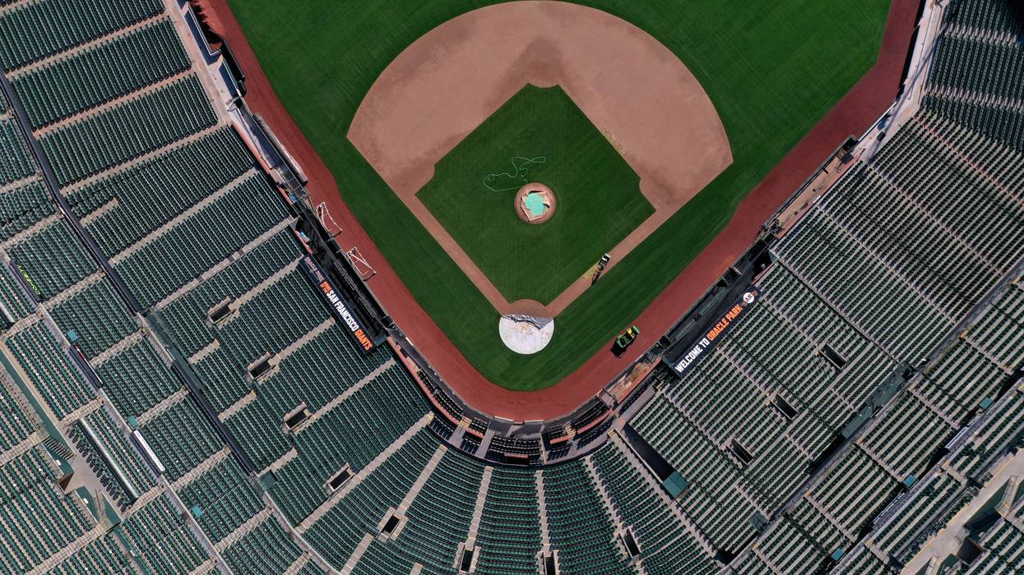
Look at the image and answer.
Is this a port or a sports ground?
sports ground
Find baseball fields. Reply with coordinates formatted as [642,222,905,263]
[188,0,920,424]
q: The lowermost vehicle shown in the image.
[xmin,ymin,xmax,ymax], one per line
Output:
[617,327,641,349]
